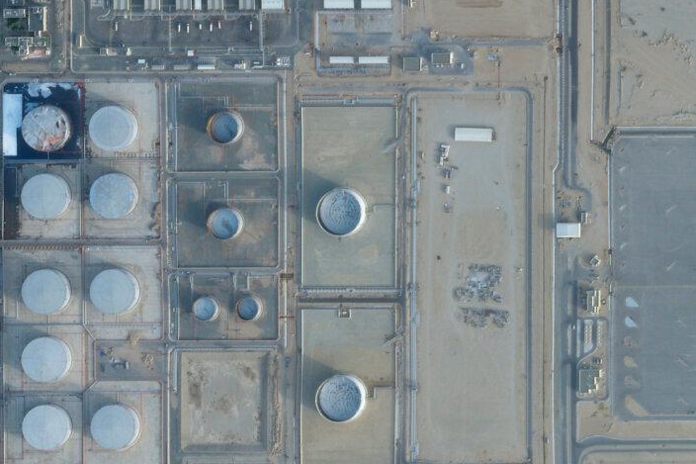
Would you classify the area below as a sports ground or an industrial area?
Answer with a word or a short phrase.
industrial area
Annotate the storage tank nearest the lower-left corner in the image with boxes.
[21,404,73,454]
